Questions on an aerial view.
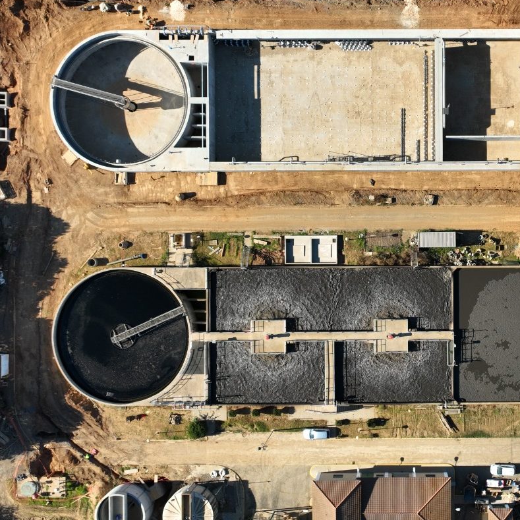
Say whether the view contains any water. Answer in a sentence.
Yes, water shows up in the scene.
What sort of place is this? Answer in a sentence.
What you see here is an industrial area.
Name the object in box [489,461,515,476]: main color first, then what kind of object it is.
white car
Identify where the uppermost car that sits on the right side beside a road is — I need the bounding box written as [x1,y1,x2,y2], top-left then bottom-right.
[304,426,330,440]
